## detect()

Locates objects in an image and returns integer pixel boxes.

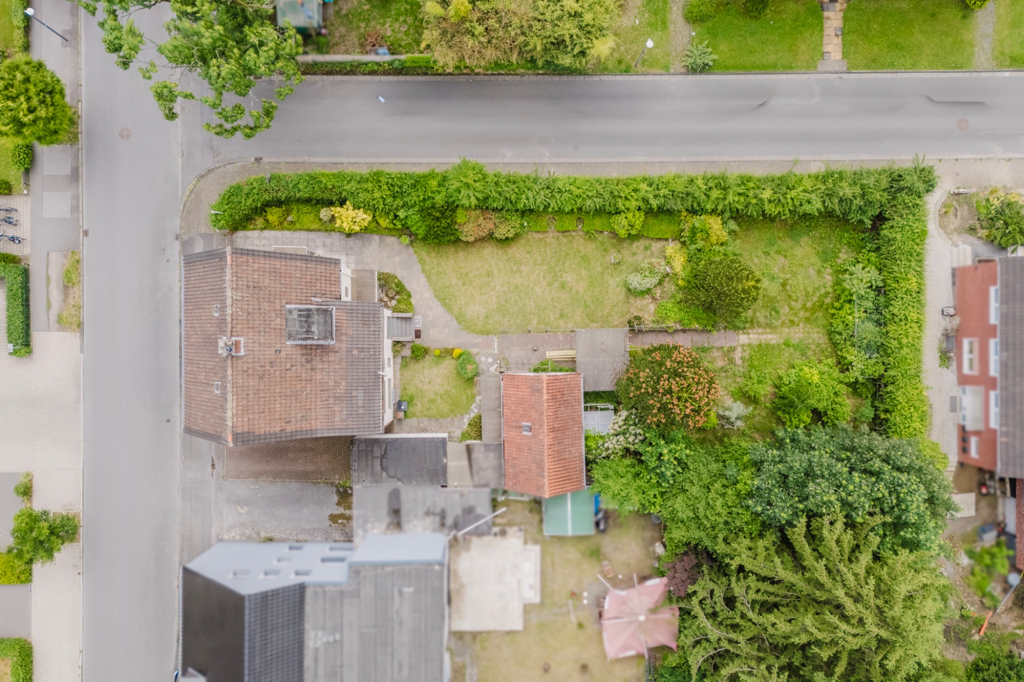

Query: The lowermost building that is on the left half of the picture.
[173,535,456,682]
